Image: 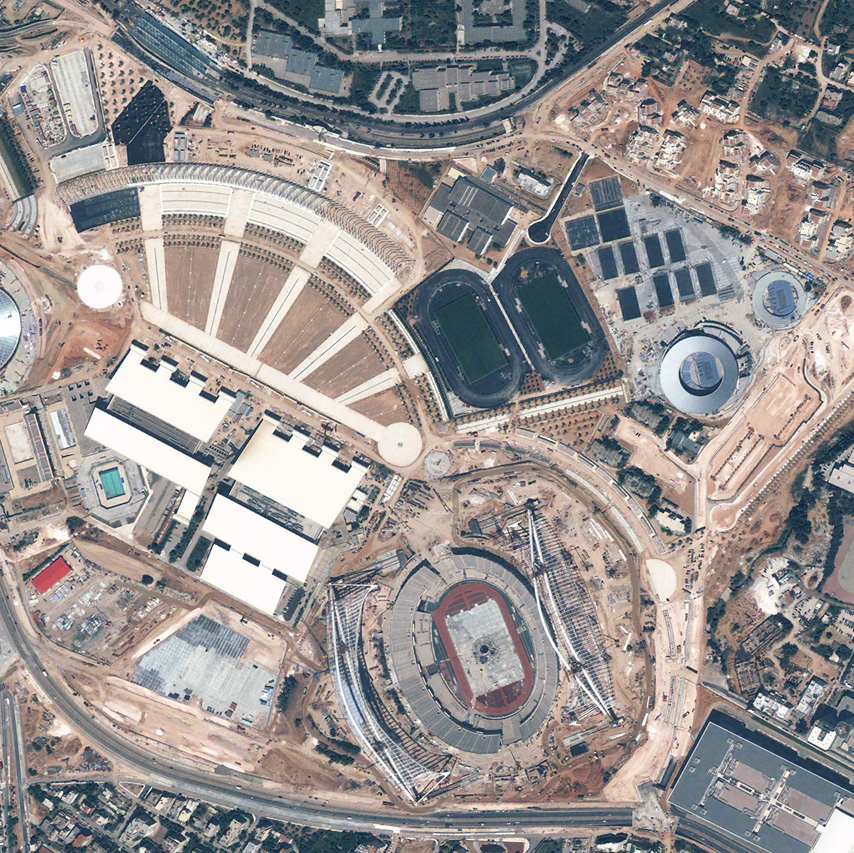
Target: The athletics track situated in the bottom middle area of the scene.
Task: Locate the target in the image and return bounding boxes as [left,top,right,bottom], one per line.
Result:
[431,582,533,714]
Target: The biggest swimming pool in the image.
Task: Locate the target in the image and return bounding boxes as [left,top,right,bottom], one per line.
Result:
[78,451,150,527]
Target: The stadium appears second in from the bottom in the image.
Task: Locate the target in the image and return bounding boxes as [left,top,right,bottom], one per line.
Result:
[660,323,754,414]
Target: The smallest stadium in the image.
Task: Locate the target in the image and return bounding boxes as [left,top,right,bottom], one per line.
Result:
[753,272,806,326]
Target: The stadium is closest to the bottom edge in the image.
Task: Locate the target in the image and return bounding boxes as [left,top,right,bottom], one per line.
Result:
[386,553,558,759]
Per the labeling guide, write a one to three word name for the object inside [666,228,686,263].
tennis court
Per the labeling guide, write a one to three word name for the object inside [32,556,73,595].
building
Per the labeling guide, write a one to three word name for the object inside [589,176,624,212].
tennis court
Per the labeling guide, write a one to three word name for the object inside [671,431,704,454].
house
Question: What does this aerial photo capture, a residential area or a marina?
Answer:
residential area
